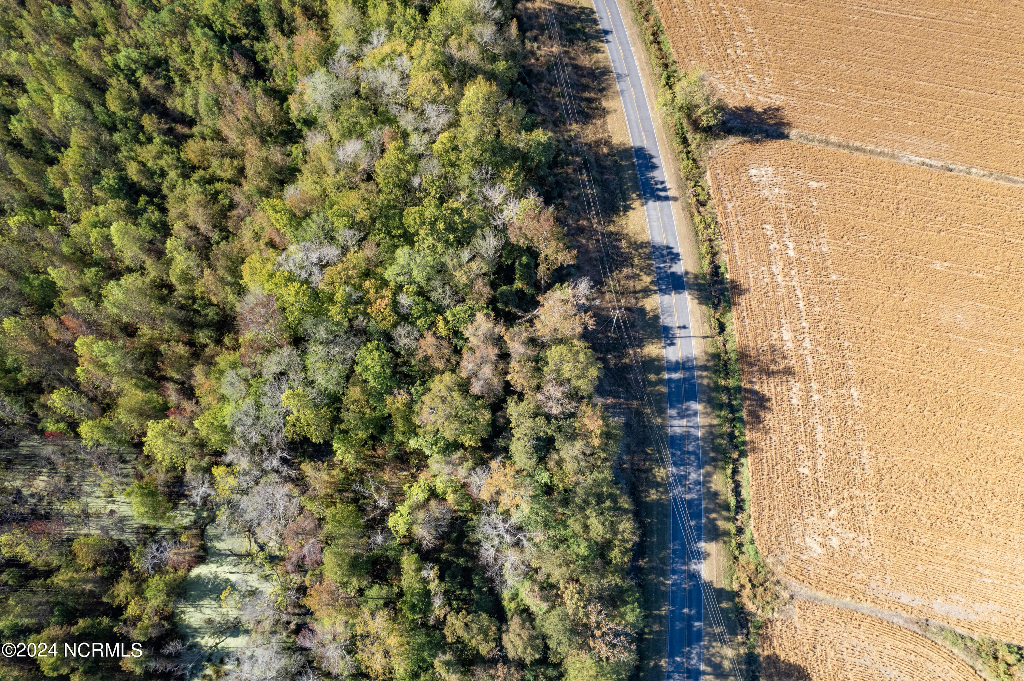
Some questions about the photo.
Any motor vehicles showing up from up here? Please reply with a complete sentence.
No, I can see no motor vehicle in this picture.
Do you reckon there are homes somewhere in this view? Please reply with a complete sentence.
No, no home is visible in the scene.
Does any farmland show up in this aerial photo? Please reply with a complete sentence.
Yes, some farmland is visible.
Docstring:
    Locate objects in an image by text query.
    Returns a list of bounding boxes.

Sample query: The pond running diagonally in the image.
[0,435,293,681]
